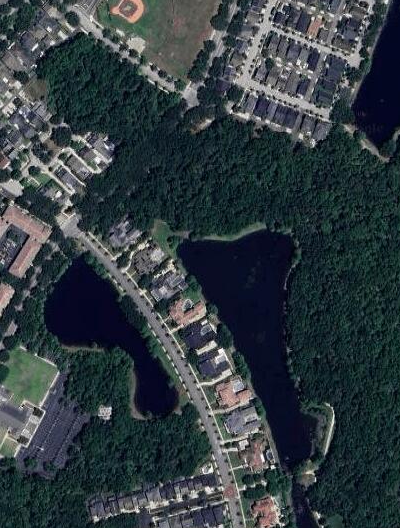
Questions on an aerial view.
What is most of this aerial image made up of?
trees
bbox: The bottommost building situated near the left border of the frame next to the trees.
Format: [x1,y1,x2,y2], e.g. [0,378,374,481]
[0,386,36,441]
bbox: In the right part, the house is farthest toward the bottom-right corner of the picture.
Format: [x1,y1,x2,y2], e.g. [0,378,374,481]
[249,495,278,527]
